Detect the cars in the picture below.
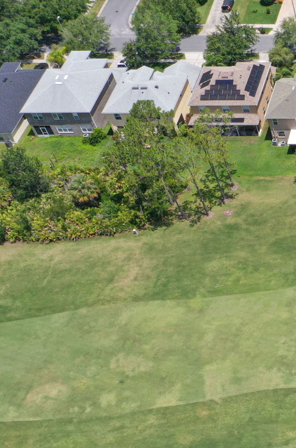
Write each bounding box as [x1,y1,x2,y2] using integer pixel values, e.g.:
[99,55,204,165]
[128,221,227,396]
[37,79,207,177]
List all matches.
[32,58,50,70]
[114,58,126,72]
[221,0,233,11]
